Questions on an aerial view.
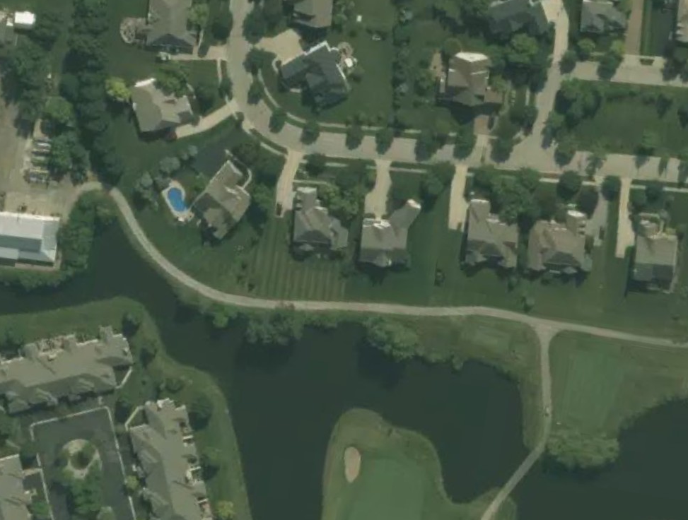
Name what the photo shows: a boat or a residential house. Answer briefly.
residential house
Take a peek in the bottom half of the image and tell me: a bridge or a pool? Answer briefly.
bridge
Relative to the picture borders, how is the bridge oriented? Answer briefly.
on a diagonal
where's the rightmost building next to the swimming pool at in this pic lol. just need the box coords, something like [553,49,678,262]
[195,157,257,240]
